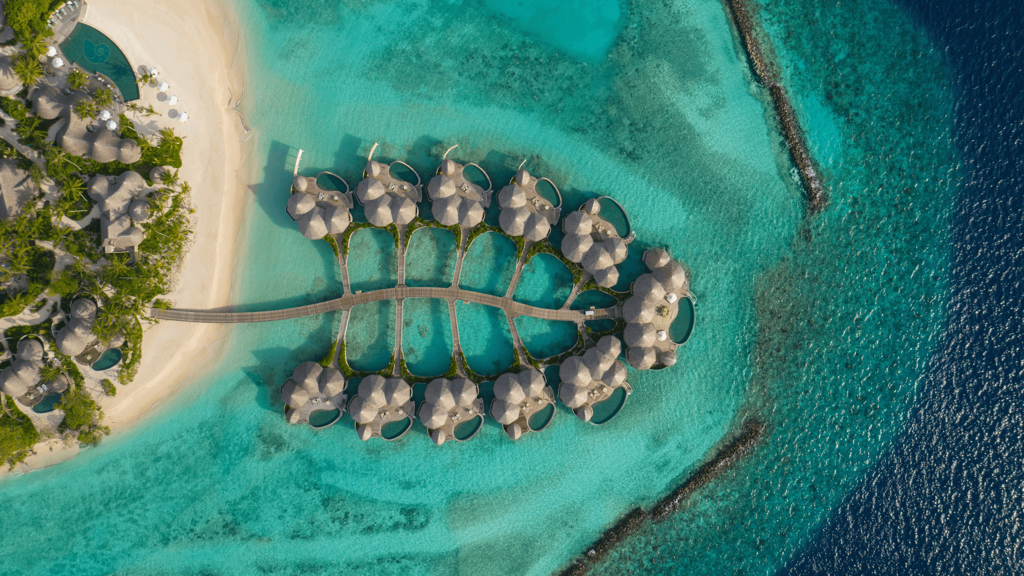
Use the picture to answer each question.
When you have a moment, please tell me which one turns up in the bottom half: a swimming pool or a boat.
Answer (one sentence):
The one visible in the bottom half is a swimming pool.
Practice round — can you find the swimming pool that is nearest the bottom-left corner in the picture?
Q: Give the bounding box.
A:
[35,393,62,412]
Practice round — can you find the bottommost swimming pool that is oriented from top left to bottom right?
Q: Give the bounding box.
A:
[597,198,629,238]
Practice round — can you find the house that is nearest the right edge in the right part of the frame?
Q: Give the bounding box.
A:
[615,247,697,372]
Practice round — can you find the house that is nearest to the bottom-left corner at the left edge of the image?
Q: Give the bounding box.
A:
[0,334,77,418]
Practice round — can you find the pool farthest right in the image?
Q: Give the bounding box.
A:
[669,297,693,344]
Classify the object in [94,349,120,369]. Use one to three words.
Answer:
swimming pool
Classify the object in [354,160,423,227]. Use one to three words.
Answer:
house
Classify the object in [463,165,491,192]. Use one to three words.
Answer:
swimming pool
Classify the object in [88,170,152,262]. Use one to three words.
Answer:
house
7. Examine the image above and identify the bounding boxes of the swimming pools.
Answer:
[535,180,560,209]
[35,393,62,412]
[389,163,419,186]
[590,386,625,425]
[463,165,491,192]
[310,408,342,428]
[381,416,412,440]
[58,19,143,104]
[316,174,348,195]
[669,297,693,344]
[597,198,629,238]
[528,403,554,431]
[454,414,483,441]
[94,349,120,369]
